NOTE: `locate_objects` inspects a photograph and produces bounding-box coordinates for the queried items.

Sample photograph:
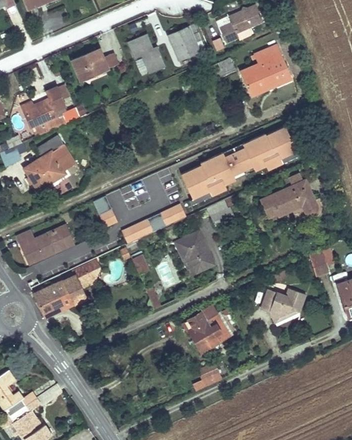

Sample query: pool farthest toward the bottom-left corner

[102,257,126,286]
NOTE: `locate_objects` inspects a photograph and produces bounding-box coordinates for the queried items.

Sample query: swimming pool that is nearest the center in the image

[155,254,180,290]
